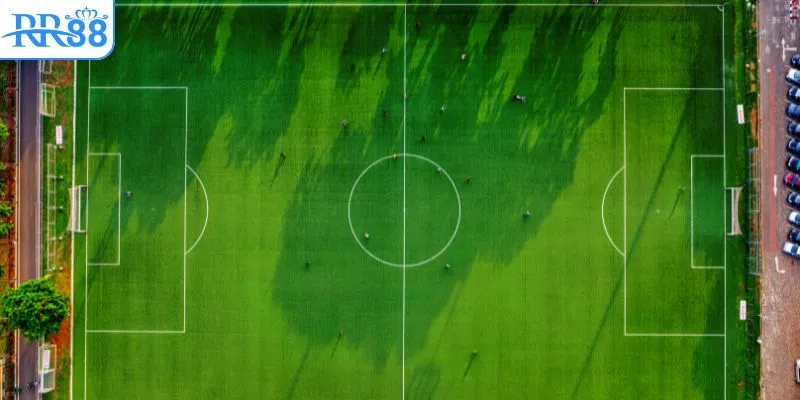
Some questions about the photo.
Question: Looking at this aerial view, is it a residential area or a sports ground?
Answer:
sports ground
